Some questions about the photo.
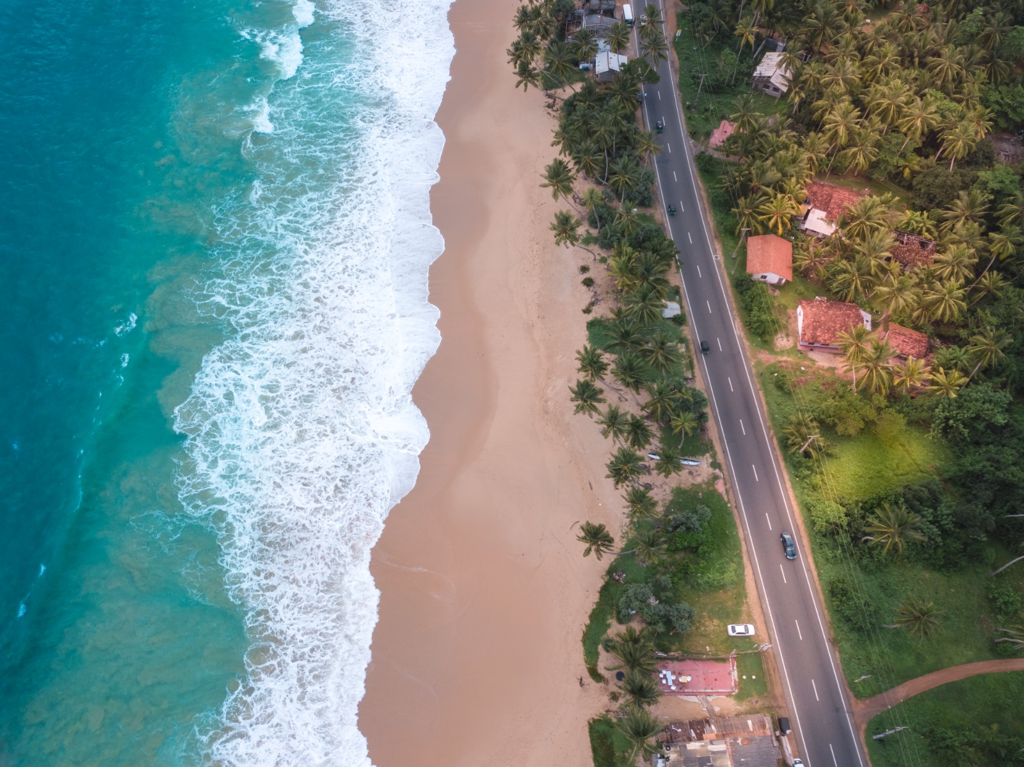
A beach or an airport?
beach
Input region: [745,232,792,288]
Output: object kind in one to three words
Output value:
house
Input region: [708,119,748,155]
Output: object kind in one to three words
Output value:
house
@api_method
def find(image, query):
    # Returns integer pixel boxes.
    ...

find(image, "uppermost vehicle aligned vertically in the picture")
[624,1,636,26]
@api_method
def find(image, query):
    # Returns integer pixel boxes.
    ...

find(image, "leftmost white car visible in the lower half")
[728,622,756,636]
